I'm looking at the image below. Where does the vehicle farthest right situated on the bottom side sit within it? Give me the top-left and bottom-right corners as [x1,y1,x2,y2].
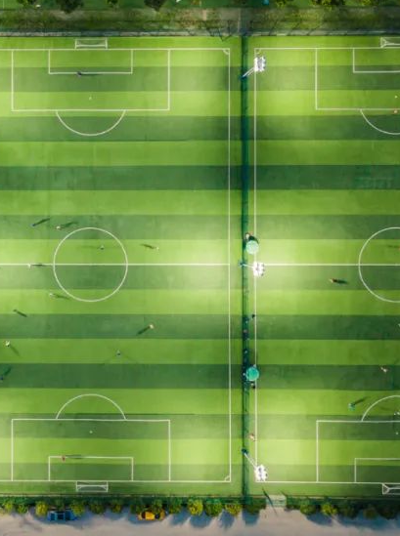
[137,507,165,524]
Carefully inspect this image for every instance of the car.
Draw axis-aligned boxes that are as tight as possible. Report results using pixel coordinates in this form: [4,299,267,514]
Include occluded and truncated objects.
[46,508,78,525]
[137,507,165,524]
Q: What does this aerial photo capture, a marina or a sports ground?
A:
sports ground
